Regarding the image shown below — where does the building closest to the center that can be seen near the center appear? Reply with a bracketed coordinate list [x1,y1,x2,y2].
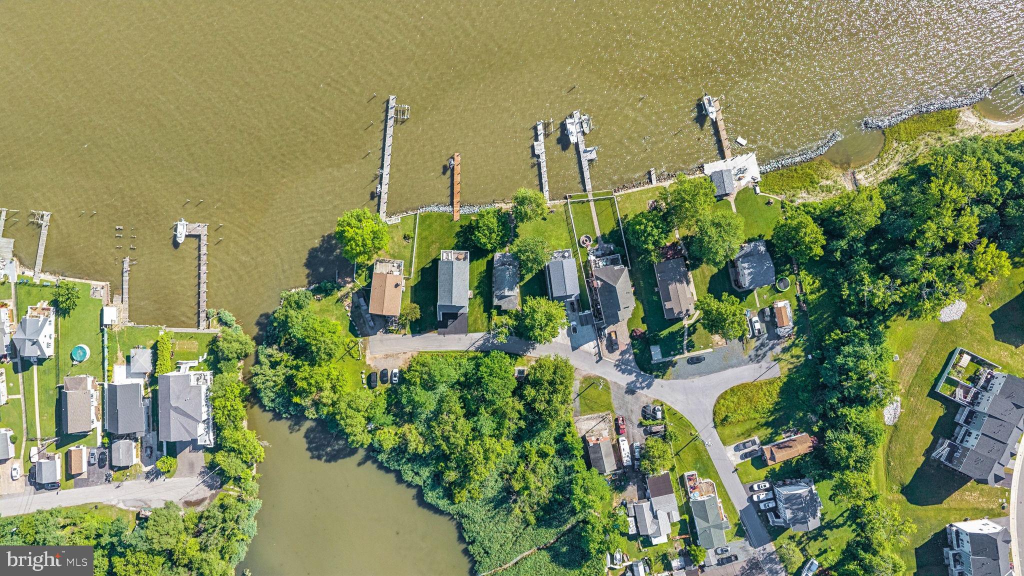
[493,254,518,309]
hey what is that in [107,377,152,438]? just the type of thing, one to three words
house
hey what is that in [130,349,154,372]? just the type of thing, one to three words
gazebo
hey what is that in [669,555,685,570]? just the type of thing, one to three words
camper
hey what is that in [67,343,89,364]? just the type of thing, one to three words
swimming pool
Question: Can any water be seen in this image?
Yes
